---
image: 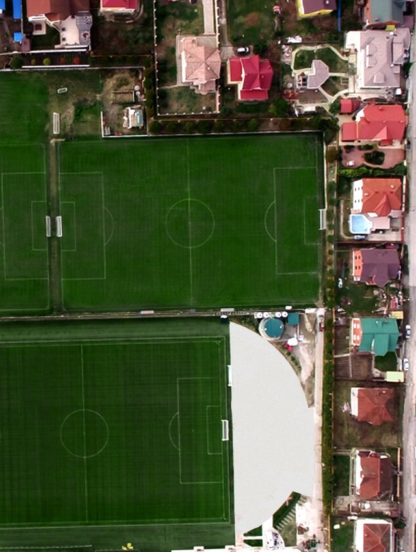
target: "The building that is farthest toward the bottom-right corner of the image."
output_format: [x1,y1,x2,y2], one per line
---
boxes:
[355,518,395,552]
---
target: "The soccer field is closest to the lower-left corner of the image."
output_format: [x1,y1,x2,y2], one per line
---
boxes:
[0,314,235,552]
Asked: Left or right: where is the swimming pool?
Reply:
right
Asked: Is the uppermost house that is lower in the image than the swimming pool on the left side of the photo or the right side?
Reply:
right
